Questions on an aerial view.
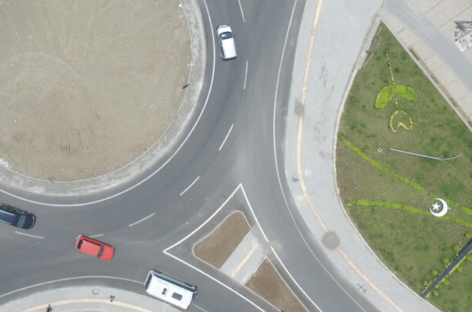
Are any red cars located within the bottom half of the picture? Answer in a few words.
Yes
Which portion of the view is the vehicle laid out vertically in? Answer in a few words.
top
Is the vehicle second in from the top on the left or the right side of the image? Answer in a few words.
left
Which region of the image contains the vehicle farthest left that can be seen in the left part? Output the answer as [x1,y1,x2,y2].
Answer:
[0,205,37,230]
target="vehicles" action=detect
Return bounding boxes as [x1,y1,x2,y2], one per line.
[216,24,237,61]
[145,270,197,310]
[0,205,37,230]
[73,234,116,261]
